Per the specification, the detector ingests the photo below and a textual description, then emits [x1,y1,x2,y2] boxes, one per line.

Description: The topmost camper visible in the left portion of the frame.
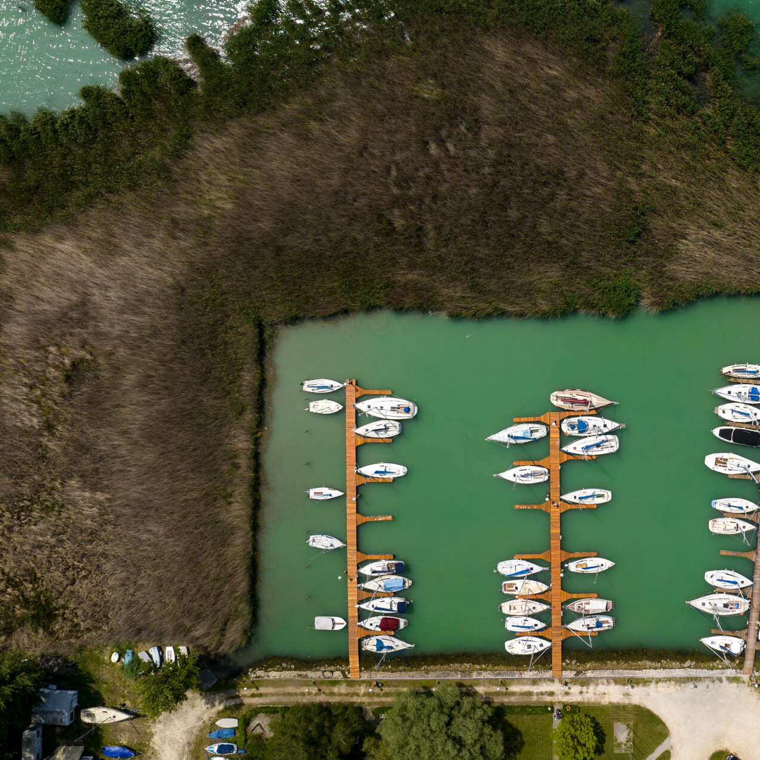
[35,696,80,722]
